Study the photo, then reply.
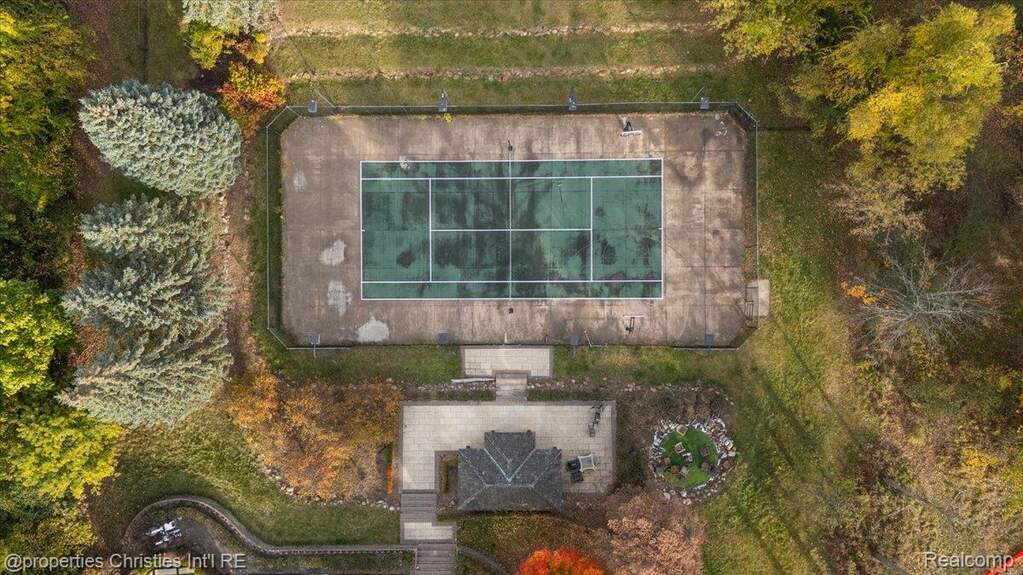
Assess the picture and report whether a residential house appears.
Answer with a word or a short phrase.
No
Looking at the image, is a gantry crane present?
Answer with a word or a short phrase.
No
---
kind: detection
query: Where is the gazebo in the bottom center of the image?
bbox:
[458,426,562,511]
